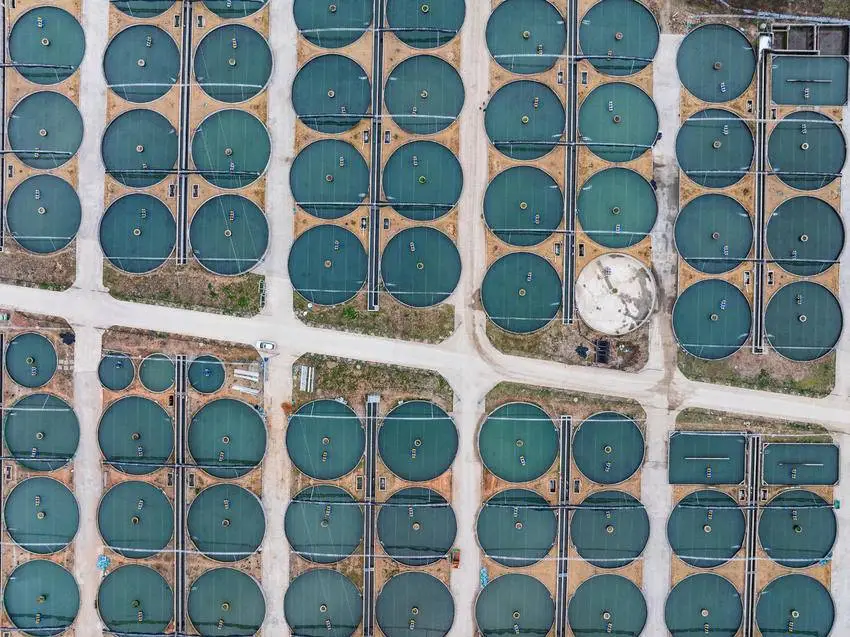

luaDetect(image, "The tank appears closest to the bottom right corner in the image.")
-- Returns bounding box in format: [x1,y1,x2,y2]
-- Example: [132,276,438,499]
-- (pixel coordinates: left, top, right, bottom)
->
[756,572,835,637]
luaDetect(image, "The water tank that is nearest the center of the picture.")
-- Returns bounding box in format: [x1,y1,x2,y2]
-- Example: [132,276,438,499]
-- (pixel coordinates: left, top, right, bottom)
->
[381,226,462,307]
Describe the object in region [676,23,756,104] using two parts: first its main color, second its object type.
blue water tank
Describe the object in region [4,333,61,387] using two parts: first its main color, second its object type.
blue water tank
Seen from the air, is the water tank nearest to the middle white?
No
